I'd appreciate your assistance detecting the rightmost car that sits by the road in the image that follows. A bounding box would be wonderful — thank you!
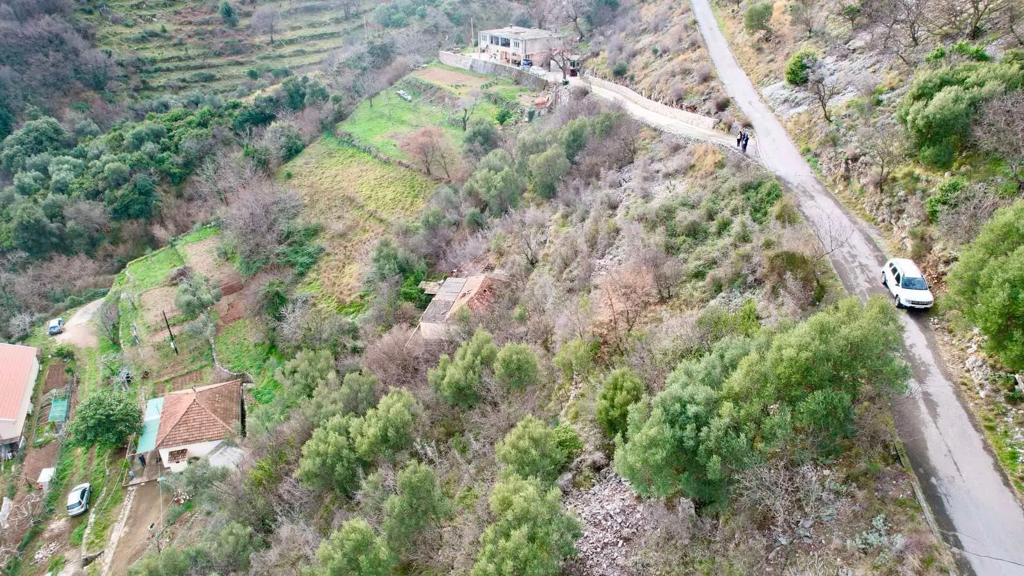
[882,256,935,311]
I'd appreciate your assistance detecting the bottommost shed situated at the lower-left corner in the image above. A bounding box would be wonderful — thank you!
[32,462,54,488]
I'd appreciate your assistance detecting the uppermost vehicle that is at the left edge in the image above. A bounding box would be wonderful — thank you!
[46,317,65,338]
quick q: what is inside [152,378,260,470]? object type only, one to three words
house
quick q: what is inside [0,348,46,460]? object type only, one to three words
house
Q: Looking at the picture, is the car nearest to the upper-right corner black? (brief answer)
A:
No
